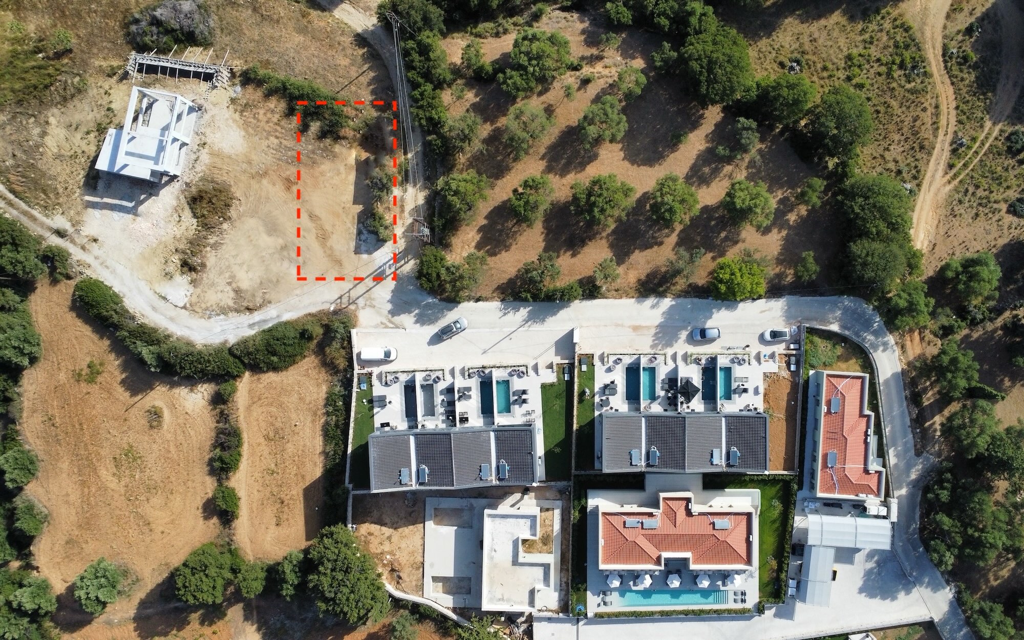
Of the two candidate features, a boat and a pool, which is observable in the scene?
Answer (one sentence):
The image shows a pool.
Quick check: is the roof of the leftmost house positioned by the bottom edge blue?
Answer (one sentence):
No, the roof of the leftmost house positioned by the bottom edge is actually white.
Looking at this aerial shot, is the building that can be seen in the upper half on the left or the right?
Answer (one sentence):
The building that can be seen in the upper half sits on the left side.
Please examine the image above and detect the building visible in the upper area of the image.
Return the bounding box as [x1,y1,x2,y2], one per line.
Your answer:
[95,86,198,183]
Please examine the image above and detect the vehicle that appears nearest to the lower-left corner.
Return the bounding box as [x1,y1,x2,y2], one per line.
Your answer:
[361,346,397,362]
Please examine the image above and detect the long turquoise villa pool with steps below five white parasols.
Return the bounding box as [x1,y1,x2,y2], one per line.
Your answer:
[618,590,729,607]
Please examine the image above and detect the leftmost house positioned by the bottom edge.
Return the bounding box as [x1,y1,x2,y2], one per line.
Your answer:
[482,505,554,611]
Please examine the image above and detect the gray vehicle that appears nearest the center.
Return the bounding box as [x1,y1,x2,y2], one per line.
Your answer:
[435,317,468,341]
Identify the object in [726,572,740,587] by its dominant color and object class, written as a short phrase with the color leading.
white umbrella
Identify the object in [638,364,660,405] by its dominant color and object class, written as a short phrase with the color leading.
blue swimming pool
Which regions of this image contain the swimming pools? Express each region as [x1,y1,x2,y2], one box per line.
[491,375,515,418]
[719,364,735,403]
[622,364,645,405]
[399,379,420,423]
[697,363,721,404]
[475,376,498,419]
[618,590,729,607]
[638,364,660,405]
[419,379,440,421]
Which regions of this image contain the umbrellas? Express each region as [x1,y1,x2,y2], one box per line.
[606,573,621,587]
[637,572,652,587]
[674,378,701,405]
[666,572,681,587]
[695,572,710,587]
[726,572,740,587]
